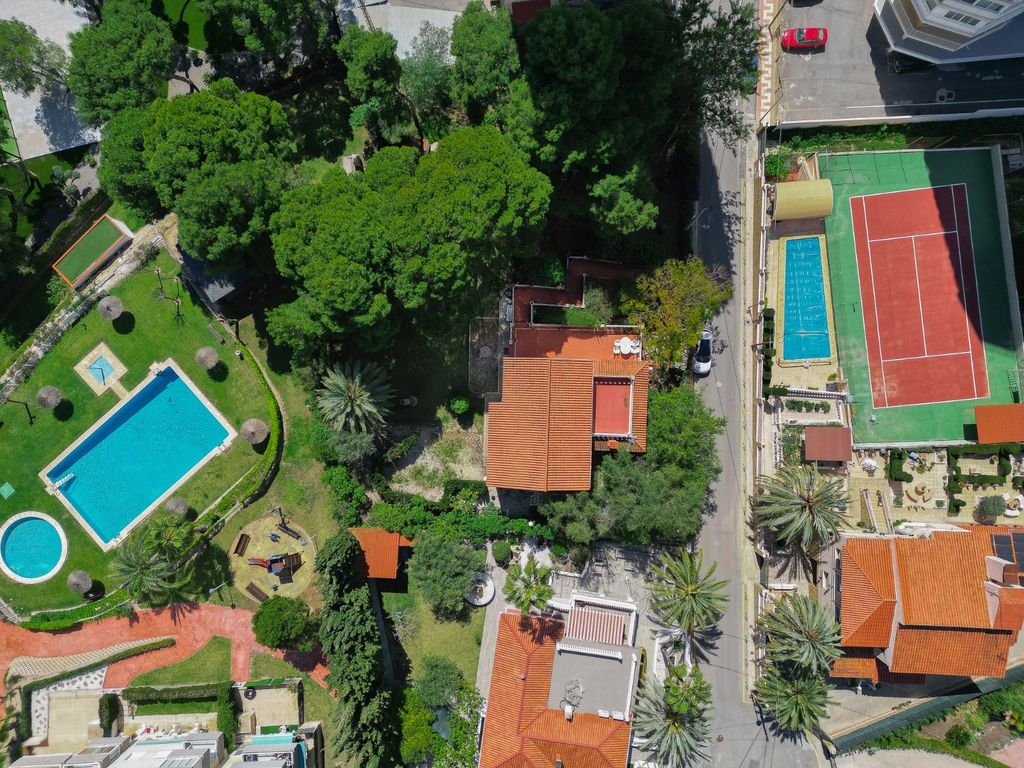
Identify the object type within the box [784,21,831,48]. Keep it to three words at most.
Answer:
car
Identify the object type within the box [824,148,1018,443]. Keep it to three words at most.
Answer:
tennis court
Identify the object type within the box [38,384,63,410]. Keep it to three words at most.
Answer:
umbrella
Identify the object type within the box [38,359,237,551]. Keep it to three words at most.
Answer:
swimming pool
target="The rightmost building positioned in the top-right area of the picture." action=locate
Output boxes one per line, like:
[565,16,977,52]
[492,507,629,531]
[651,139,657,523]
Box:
[868,0,1024,66]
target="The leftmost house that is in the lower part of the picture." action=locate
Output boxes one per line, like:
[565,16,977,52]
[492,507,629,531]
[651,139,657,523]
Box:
[18,727,98,768]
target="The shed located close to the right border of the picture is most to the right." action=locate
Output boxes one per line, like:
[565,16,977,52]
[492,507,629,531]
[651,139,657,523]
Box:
[960,404,1024,444]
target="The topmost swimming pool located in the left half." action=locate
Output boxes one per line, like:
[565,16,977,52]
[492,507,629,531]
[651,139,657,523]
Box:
[73,342,129,399]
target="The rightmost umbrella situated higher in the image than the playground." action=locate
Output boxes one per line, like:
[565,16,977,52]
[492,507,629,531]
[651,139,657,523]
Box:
[243,418,269,444]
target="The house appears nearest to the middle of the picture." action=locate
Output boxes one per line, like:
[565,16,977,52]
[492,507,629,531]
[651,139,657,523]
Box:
[486,357,650,492]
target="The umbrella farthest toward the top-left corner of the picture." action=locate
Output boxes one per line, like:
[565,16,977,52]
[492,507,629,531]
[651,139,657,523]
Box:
[99,296,125,322]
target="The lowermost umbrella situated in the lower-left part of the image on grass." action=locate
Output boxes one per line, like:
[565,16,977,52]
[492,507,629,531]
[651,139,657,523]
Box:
[69,568,94,593]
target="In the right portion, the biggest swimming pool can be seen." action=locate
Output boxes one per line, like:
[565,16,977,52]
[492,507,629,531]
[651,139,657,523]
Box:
[776,233,837,367]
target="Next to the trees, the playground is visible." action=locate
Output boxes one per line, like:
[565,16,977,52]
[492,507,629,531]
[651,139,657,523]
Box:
[229,517,316,604]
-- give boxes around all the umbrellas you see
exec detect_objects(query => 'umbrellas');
[69,568,94,593]
[38,384,63,410]
[165,494,190,518]
[243,418,269,444]
[195,345,221,370]
[99,296,125,322]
